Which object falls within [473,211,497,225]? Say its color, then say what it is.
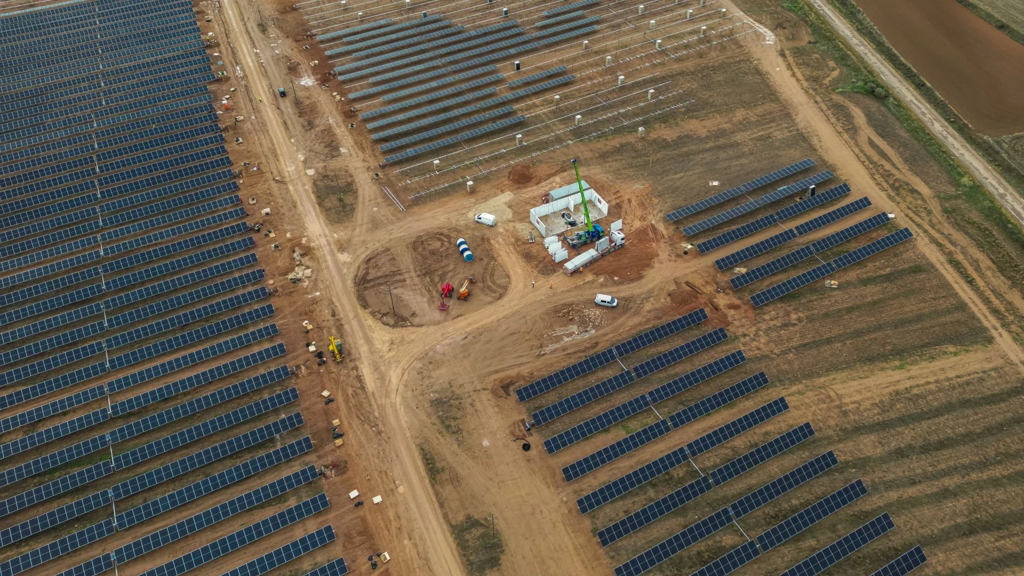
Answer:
white vehicle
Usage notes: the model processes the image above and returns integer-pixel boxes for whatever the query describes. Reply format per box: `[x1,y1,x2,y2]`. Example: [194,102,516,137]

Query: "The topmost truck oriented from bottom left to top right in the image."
[563,230,628,273]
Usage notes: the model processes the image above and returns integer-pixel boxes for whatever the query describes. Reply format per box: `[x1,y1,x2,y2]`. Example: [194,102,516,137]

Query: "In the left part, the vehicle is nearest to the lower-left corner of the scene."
[326,330,345,365]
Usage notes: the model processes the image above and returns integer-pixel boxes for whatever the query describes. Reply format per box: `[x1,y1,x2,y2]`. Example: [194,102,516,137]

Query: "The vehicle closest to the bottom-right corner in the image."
[593,291,619,307]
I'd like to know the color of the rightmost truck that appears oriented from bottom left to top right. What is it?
white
